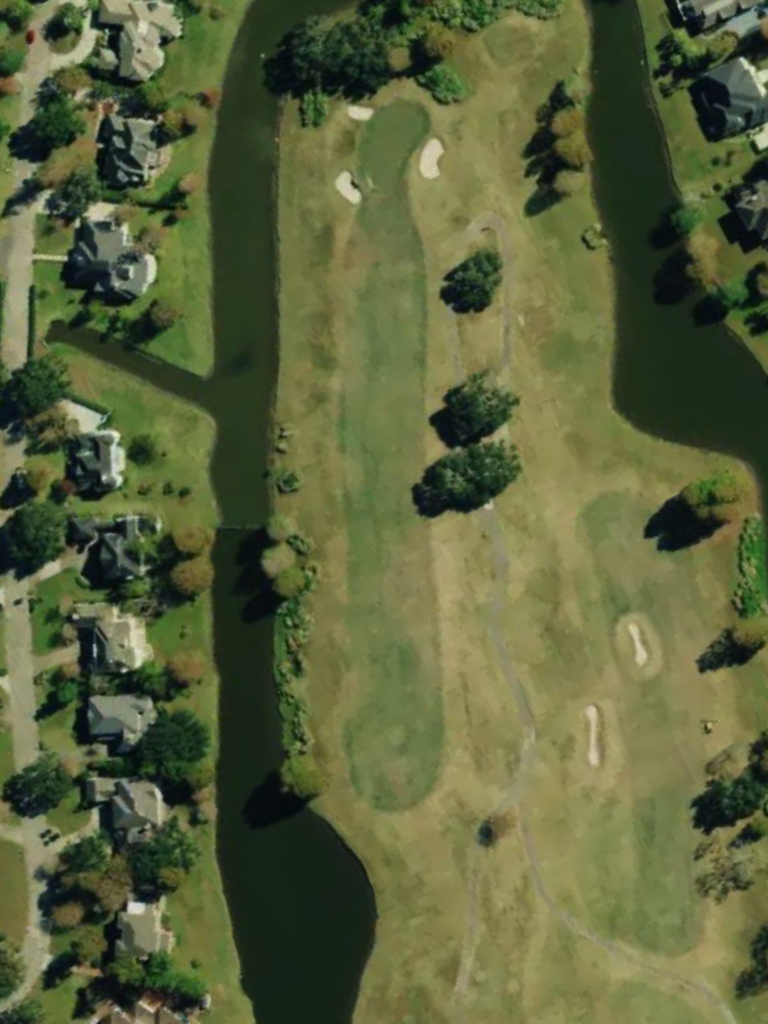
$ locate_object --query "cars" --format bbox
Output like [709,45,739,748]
[11,597,24,606]
[40,829,53,838]
[46,835,59,845]
[27,30,34,42]
[84,749,97,757]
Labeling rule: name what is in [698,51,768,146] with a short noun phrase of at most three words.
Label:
house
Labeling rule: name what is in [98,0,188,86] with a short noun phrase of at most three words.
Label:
house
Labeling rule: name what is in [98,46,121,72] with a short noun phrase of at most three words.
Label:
building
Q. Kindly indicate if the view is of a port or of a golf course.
golf course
